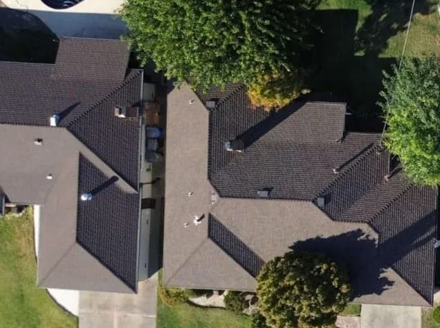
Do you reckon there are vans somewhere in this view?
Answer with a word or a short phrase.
No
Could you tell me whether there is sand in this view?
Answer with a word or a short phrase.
No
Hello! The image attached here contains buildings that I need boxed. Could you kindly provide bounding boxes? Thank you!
[0,38,155,294]
[162,66,440,307]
